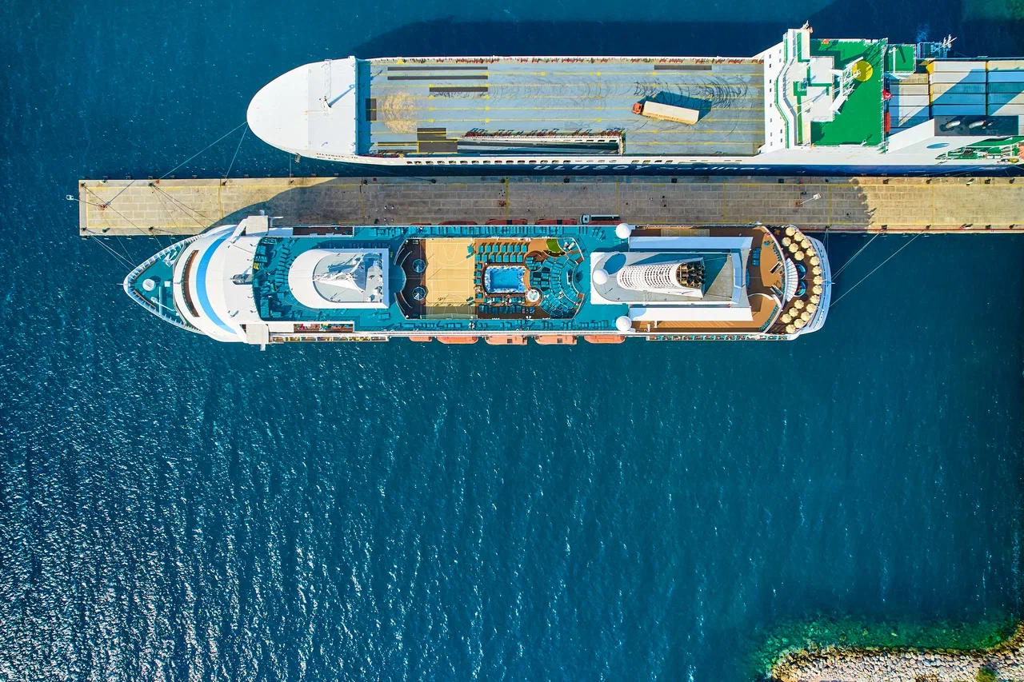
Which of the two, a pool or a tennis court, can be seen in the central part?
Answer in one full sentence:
It is a pool that can be seen in the central part.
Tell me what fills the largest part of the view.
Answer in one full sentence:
For the most part, this view shows water.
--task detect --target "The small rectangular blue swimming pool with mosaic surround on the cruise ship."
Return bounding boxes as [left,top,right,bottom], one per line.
[482,263,529,296]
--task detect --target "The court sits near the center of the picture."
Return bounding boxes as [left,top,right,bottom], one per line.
[426,241,475,315]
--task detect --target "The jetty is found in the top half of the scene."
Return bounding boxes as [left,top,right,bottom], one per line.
[79,175,1024,238]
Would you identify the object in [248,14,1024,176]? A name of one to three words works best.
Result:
ship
